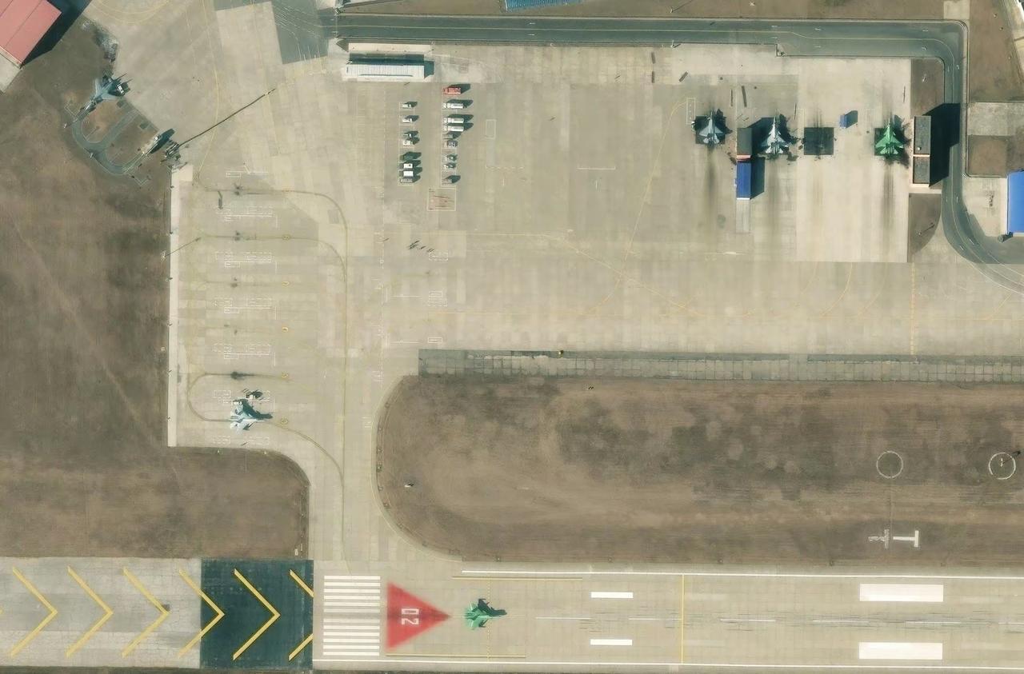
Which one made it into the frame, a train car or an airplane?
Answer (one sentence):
The one in the frame is an airplane.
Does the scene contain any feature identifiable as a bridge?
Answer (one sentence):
No, I find no bridge anywhere in the image.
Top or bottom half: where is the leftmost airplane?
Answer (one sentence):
The leftmost airplane is in the top half of the image.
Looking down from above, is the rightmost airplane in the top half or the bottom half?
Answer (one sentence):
Seen from above, the rightmost airplane lies in the top half of the view.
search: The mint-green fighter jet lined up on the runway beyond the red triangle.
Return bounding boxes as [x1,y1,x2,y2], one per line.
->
[462,603,501,630]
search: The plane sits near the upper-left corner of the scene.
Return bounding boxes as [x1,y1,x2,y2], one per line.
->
[89,75,120,106]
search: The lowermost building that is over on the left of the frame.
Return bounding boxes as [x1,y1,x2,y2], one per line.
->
[346,64,424,79]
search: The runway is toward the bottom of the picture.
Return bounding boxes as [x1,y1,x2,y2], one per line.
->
[313,560,1024,674]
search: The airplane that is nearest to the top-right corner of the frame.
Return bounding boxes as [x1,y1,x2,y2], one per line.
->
[876,119,903,155]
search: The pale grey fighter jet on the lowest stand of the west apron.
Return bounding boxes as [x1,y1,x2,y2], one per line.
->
[227,404,265,431]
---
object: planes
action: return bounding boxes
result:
[227,404,265,431]
[462,603,501,630]
[89,75,120,106]
[876,119,903,155]
[698,110,724,146]
[762,117,789,154]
